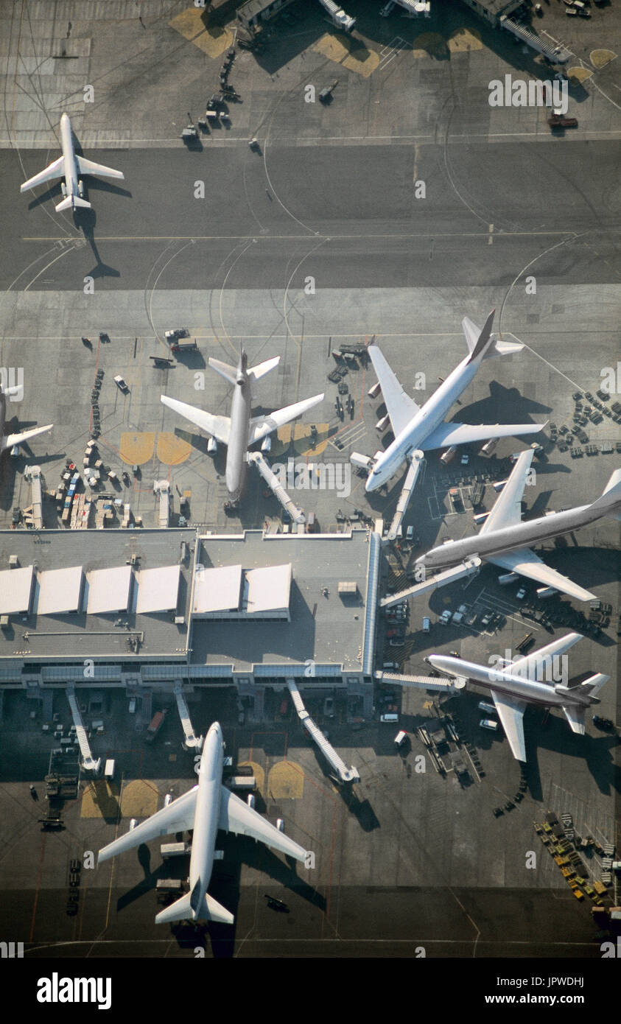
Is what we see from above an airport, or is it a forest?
airport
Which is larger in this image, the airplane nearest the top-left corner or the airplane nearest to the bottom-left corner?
the airplane nearest to the bottom-left corner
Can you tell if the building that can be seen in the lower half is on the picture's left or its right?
left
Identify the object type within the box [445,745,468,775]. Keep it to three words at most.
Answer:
work vehicle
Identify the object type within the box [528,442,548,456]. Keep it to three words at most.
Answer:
vehicle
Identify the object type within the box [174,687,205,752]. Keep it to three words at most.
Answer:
jet bridge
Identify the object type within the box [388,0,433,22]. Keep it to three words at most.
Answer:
jet bridge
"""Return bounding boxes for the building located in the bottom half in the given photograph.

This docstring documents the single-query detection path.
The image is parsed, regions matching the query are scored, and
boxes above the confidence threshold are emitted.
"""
[0,520,386,732]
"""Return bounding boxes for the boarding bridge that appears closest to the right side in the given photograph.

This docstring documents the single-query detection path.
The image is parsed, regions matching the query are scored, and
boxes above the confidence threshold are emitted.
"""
[498,15,575,68]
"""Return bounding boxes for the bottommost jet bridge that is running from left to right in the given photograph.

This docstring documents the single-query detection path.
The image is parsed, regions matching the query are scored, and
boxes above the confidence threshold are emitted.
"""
[381,670,467,700]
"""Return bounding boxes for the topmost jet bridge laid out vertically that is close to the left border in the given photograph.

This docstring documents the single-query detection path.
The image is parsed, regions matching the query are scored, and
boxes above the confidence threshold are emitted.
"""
[22,465,48,529]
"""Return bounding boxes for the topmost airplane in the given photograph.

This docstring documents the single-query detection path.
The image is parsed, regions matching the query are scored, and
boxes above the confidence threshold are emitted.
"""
[20,115,123,216]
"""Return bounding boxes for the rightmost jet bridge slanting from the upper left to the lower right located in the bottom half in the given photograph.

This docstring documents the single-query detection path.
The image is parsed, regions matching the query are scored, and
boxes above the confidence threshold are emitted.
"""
[288,684,362,785]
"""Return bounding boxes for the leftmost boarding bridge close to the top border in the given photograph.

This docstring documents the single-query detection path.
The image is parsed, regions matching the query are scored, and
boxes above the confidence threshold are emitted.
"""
[317,0,354,32]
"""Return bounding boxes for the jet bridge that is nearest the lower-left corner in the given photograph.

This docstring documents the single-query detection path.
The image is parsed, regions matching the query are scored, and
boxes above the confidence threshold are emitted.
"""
[65,687,104,775]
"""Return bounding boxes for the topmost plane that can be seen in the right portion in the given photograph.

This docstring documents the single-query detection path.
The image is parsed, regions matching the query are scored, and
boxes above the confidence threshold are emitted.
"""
[364,311,546,496]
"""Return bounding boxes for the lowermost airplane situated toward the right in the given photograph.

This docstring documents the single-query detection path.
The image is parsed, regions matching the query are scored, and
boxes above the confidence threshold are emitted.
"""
[427,629,612,762]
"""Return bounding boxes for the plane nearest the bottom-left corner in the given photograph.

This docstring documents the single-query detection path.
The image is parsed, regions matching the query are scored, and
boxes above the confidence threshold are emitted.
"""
[98,720,308,920]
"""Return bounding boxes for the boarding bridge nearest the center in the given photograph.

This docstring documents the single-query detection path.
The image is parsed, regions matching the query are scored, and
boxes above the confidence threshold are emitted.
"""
[244,449,307,529]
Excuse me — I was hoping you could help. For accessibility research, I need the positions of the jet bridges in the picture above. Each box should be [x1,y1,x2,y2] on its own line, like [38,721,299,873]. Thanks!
[386,449,424,552]
[174,687,205,752]
[149,477,175,527]
[317,0,354,32]
[376,550,481,619]
[22,465,48,529]
[65,687,104,775]
[498,15,575,68]
[244,449,307,529]
[388,0,433,22]
[288,684,362,785]
[381,670,467,700]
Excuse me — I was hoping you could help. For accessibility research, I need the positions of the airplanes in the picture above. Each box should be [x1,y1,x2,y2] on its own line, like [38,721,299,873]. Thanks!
[411,446,621,598]
[162,329,320,503]
[98,720,308,920]
[20,115,123,216]
[364,311,546,496]
[427,629,612,762]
